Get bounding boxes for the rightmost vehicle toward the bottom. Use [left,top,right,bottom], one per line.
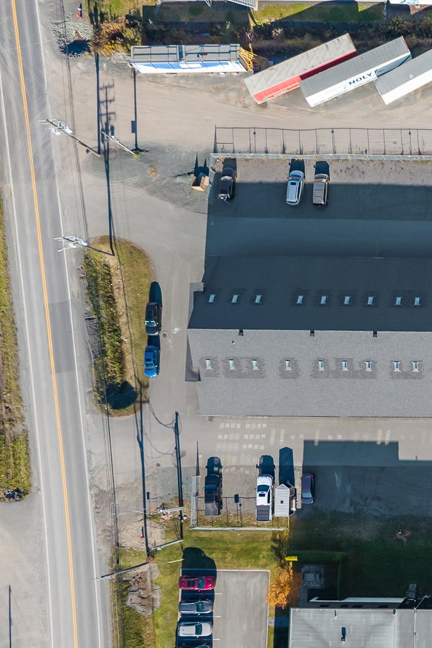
[301,472,316,504]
